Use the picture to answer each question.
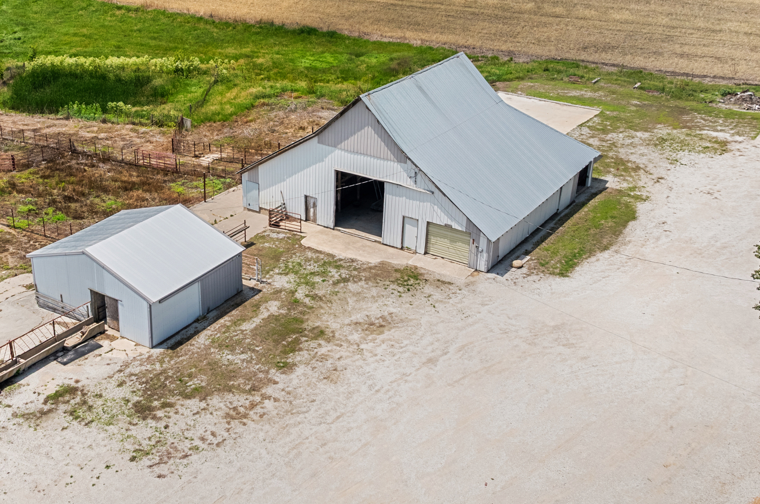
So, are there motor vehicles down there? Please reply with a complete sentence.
No, no motor vehicle is visible in the scene.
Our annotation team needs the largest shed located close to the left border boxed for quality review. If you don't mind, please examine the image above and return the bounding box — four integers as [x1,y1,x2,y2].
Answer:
[25,202,247,349]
